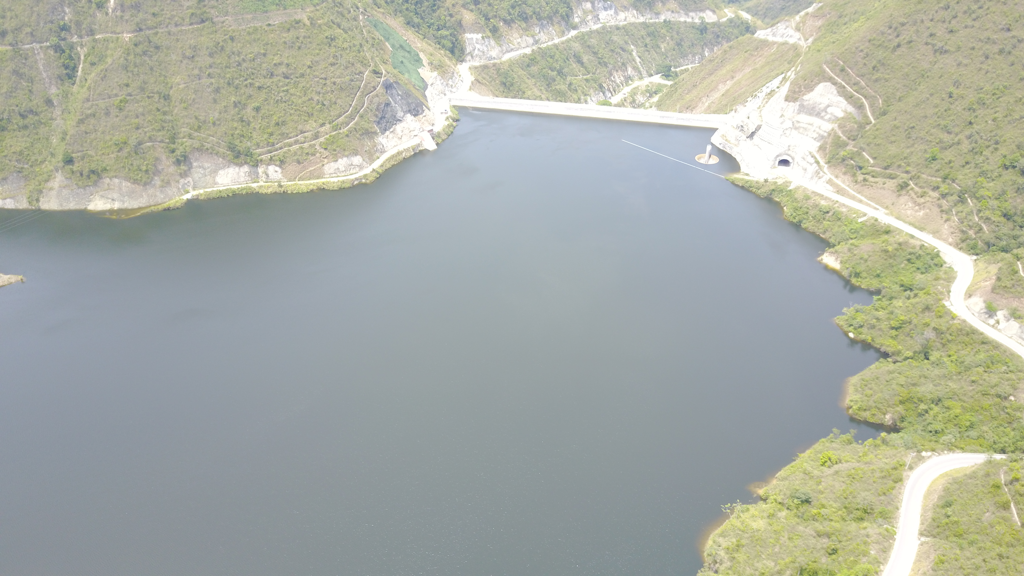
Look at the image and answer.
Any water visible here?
Yes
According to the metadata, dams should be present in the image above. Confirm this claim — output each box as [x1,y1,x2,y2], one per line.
[461,97,730,129]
